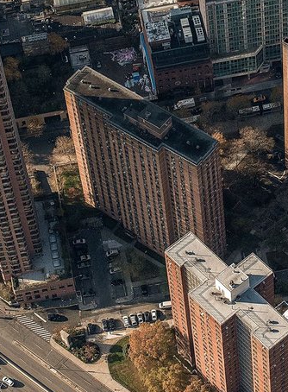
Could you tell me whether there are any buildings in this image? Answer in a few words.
Yes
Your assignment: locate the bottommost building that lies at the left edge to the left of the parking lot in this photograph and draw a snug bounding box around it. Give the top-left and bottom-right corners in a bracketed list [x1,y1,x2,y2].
[6,198,77,288]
